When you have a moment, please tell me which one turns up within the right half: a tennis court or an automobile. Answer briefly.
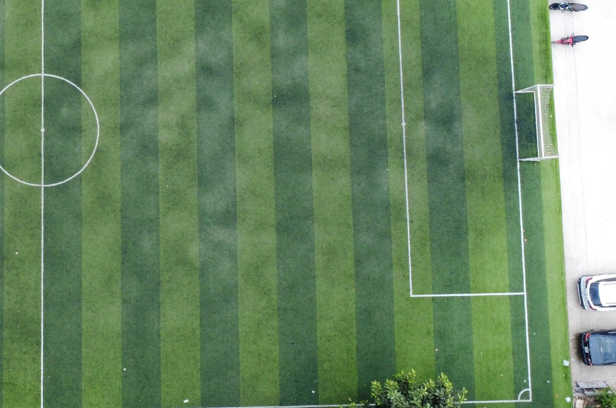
automobile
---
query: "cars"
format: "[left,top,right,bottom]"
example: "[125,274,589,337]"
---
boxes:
[576,271,616,309]
[578,328,616,365]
